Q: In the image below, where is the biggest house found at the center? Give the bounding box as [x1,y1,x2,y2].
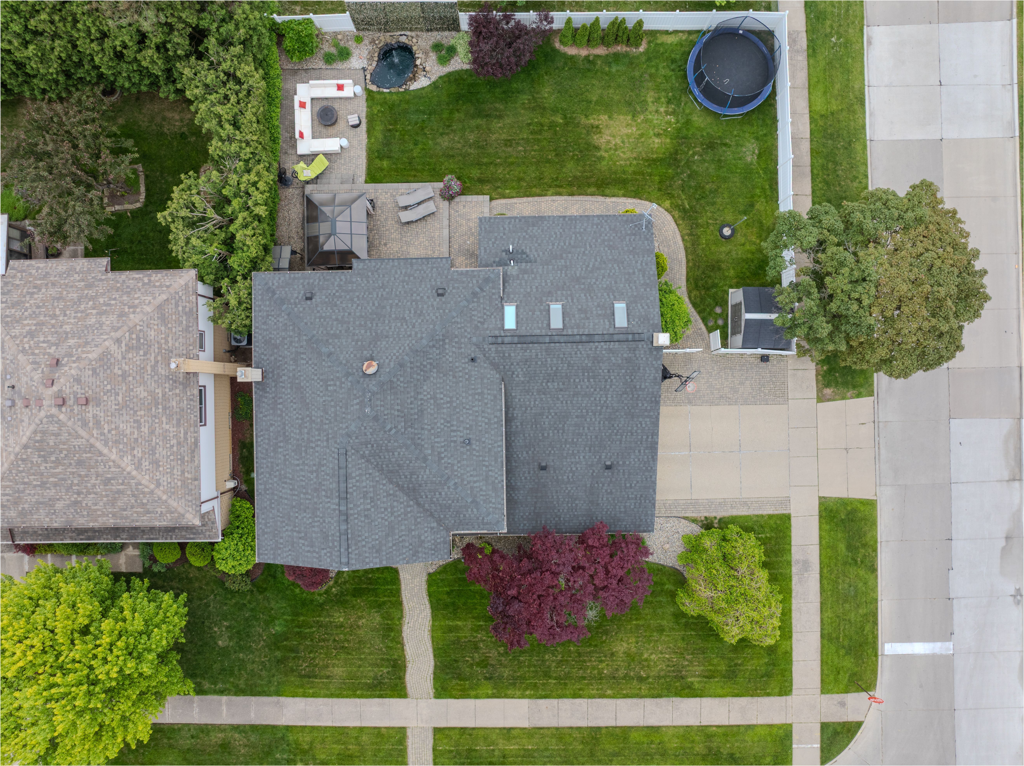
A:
[236,211,670,572]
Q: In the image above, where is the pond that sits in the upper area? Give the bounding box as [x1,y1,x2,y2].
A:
[368,38,417,93]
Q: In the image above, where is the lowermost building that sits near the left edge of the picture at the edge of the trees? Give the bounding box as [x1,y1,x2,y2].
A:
[0,256,244,545]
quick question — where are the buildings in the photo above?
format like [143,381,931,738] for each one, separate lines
[0,256,244,545]
[236,211,670,572]
[731,286,796,348]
